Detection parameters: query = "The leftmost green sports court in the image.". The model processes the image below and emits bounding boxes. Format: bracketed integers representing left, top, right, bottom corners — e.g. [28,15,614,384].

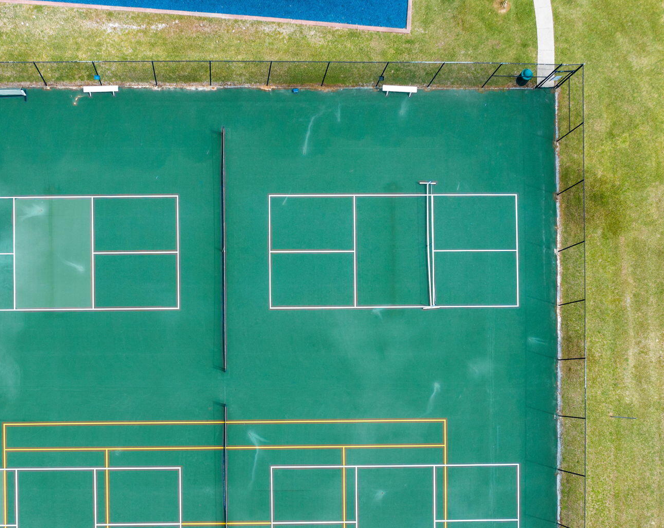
[0,195,181,312]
